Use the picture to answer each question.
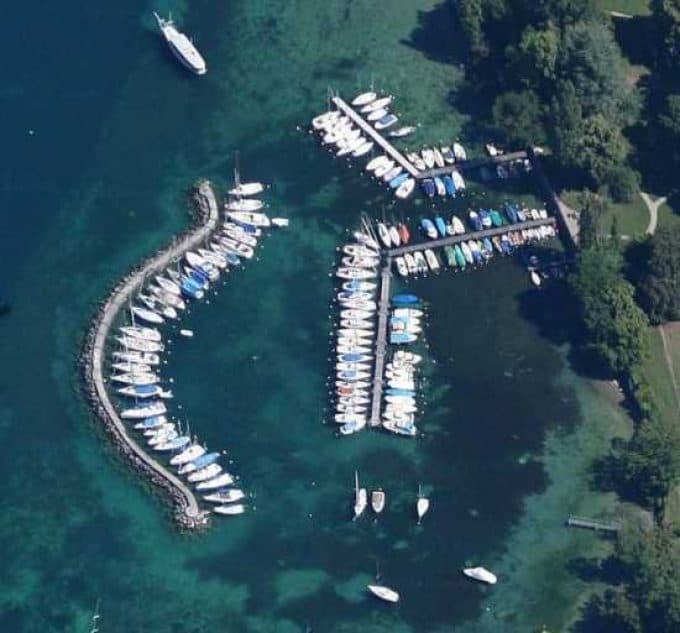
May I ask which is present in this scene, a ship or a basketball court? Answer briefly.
ship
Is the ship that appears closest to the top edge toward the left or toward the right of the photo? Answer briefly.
left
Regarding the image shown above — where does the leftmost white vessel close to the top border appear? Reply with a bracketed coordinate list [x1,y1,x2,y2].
[153,13,211,79]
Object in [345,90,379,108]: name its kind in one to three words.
boat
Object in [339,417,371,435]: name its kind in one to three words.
boat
